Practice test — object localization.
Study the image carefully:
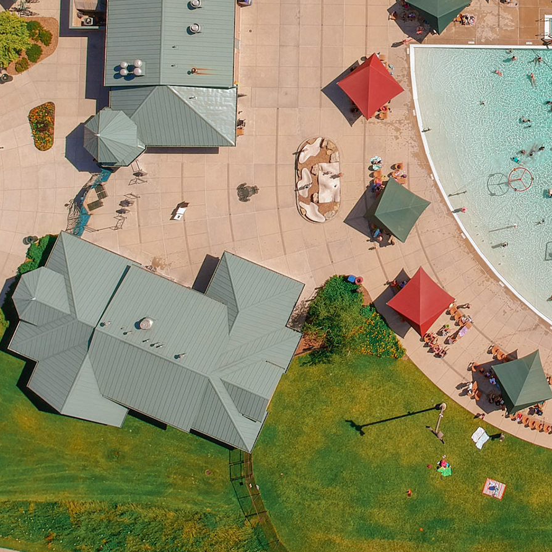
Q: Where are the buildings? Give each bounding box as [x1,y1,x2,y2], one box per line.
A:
[83,0,241,166]
[7,231,304,453]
